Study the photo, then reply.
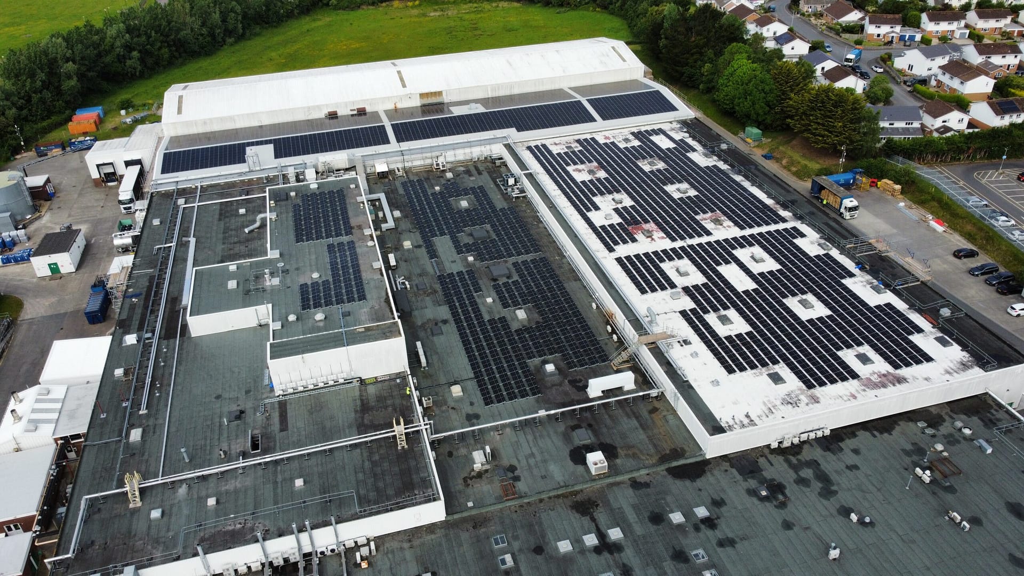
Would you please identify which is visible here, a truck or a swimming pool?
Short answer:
truck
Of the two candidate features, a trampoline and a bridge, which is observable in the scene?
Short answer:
bridge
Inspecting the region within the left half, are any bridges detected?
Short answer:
No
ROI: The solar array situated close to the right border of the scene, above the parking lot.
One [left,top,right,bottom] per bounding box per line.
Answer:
[994,98,1020,111]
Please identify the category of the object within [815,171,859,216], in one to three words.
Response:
truck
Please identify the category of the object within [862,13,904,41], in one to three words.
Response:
house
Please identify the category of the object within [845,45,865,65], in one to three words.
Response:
vehicle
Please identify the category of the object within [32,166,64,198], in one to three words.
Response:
shed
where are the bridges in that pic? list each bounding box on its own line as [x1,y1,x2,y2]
[611,320,678,367]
